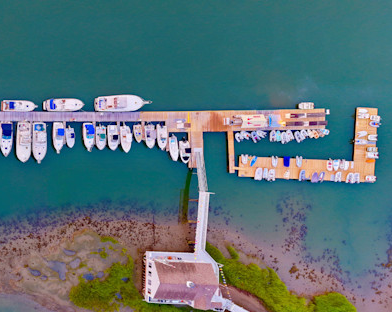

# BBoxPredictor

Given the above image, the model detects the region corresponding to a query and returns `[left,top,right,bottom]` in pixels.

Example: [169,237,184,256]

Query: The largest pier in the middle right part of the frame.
[238,108,378,183]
